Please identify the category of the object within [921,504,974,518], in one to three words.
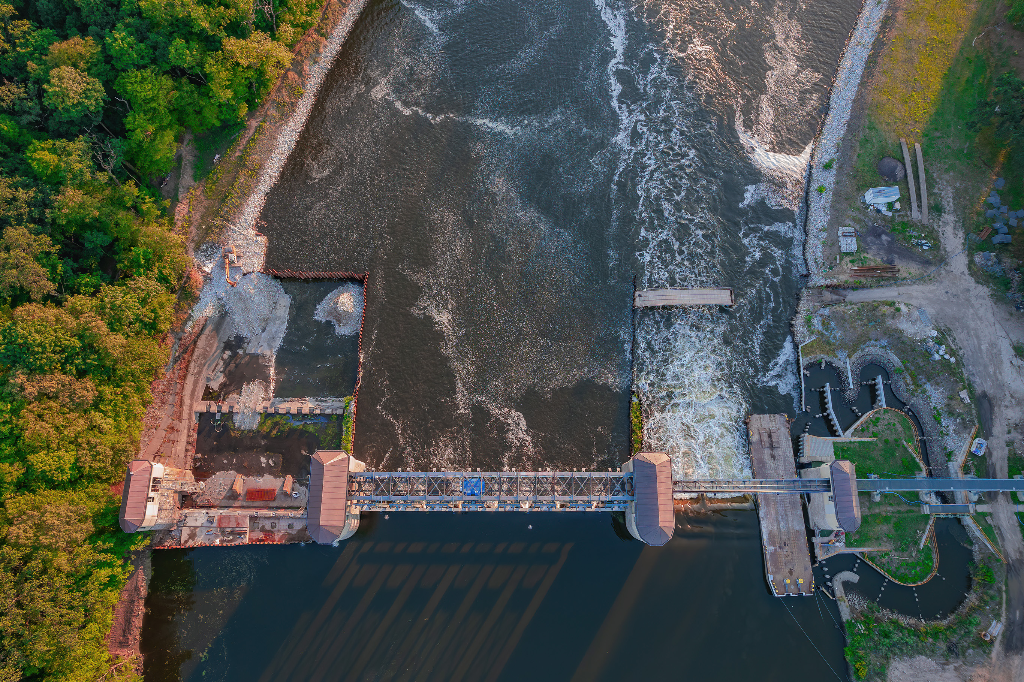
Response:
bridge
